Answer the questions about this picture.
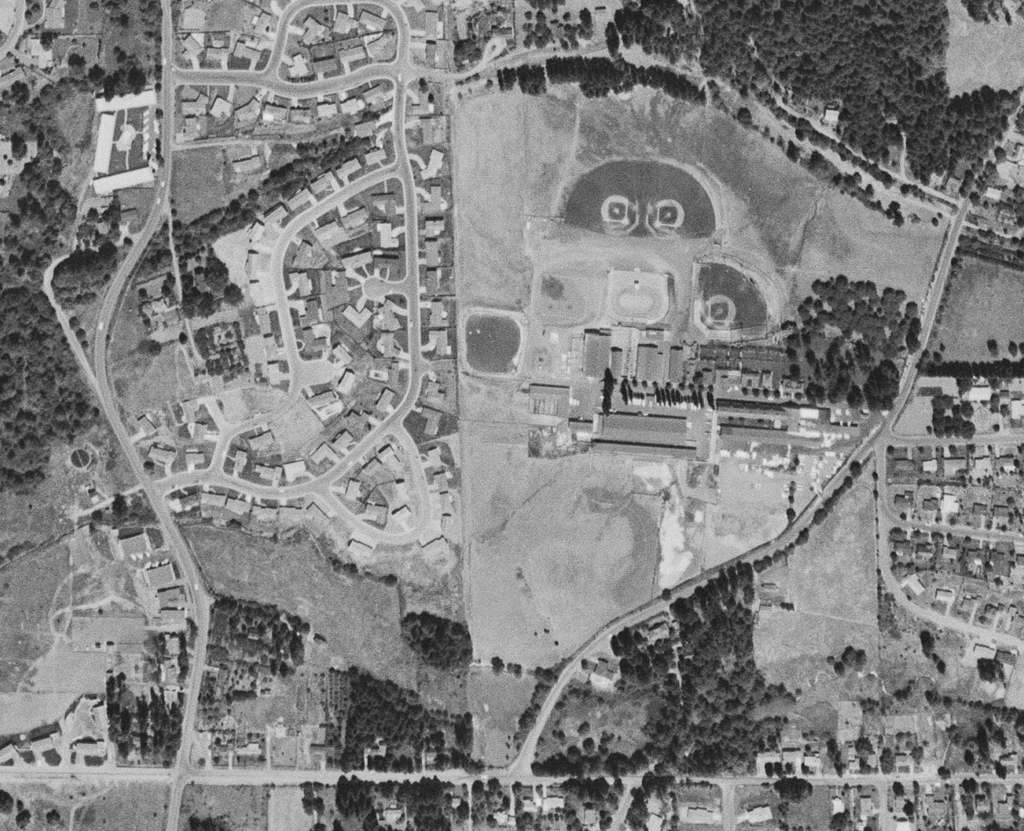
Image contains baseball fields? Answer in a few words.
Yes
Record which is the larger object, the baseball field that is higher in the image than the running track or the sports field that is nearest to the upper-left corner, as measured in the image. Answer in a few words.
the baseball field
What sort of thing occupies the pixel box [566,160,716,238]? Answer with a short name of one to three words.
baseball field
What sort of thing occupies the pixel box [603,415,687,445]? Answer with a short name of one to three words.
building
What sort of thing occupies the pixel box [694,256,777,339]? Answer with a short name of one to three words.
baseball field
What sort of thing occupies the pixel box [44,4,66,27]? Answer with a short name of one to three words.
house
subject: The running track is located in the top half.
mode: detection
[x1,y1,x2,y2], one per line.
[609,271,675,322]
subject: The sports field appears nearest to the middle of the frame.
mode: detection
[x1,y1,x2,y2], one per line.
[466,314,520,372]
